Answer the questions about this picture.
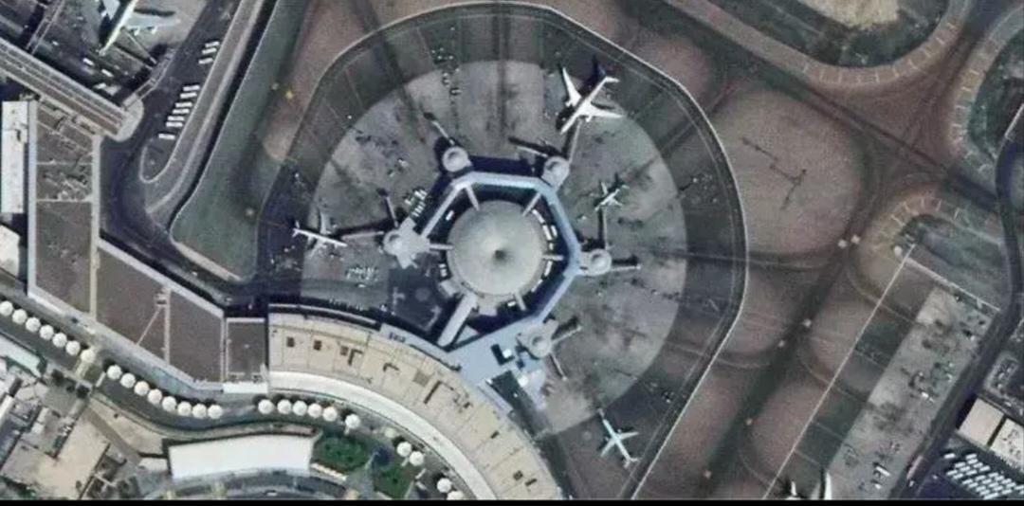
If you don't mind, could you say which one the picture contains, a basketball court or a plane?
plane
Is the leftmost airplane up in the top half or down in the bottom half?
top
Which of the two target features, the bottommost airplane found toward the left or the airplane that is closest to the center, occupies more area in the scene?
the bottommost airplane found toward the left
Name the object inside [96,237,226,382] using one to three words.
building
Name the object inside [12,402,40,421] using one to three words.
house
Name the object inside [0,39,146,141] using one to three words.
building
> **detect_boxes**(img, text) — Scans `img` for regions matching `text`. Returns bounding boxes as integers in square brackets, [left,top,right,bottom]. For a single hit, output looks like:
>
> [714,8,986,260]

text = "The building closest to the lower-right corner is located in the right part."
[989,419,1024,471]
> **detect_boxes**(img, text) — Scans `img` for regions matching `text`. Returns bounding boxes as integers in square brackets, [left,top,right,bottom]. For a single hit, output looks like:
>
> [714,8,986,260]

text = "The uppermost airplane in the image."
[101,0,179,54]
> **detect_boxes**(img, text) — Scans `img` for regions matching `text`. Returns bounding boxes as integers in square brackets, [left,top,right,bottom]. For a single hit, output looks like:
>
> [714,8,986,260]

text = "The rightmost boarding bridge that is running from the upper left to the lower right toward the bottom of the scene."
[547,352,569,379]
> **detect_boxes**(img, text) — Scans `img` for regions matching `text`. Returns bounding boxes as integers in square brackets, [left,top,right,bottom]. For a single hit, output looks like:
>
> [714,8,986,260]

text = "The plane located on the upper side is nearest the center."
[595,179,628,210]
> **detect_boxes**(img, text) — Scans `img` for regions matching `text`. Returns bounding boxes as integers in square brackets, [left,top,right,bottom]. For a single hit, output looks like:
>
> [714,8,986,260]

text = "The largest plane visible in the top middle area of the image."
[561,68,625,134]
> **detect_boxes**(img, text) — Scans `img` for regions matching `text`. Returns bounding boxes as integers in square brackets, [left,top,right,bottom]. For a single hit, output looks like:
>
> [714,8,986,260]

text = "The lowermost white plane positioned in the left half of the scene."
[289,212,348,259]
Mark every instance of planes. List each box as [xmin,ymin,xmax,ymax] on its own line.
[600,419,637,464]
[561,68,625,134]
[595,179,628,210]
[101,0,179,54]
[289,212,348,259]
